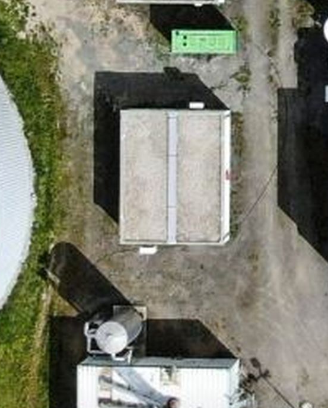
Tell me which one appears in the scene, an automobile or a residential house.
residential house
